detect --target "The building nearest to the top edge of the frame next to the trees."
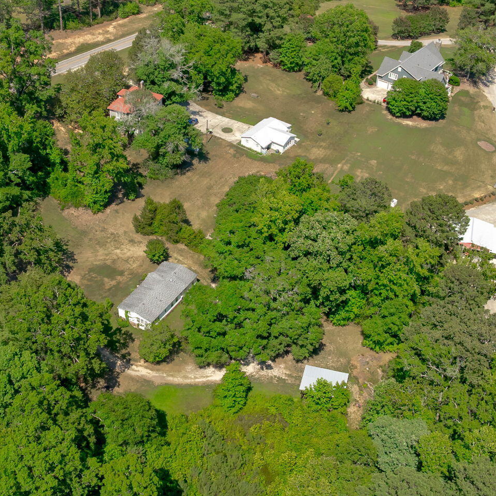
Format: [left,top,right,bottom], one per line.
[376,34,459,94]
